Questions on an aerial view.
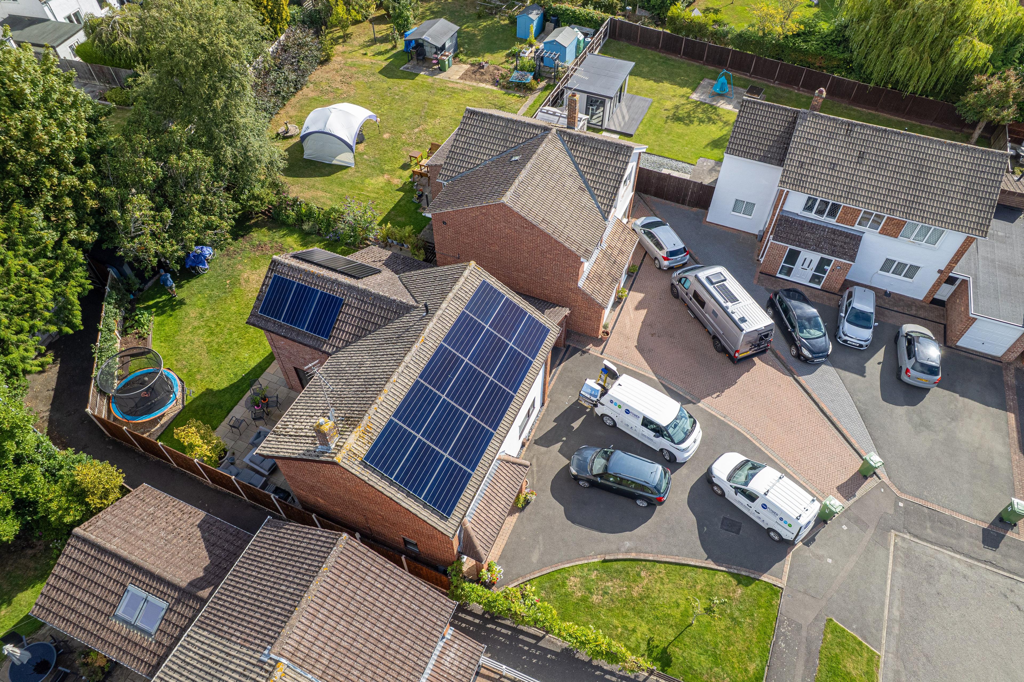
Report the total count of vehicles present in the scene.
8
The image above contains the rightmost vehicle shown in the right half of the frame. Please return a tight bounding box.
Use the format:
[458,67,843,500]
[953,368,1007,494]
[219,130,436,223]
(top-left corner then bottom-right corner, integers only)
[896,324,945,395]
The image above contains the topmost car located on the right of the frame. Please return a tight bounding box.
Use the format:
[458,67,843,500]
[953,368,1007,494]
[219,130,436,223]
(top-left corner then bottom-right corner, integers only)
[636,215,693,272]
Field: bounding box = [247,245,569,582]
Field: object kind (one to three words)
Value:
house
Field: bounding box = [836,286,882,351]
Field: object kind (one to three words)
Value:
car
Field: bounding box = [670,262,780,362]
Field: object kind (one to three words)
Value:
van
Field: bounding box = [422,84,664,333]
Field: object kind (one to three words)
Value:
house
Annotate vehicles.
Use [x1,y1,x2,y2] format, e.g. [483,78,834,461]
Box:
[670,262,780,362]
[636,215,693,272]
[896,324,945,395]
[581,356,707,465]
[836,286,882,351]
[768,289,837,366]
[707,453,827,550]
[568,443,671,507]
